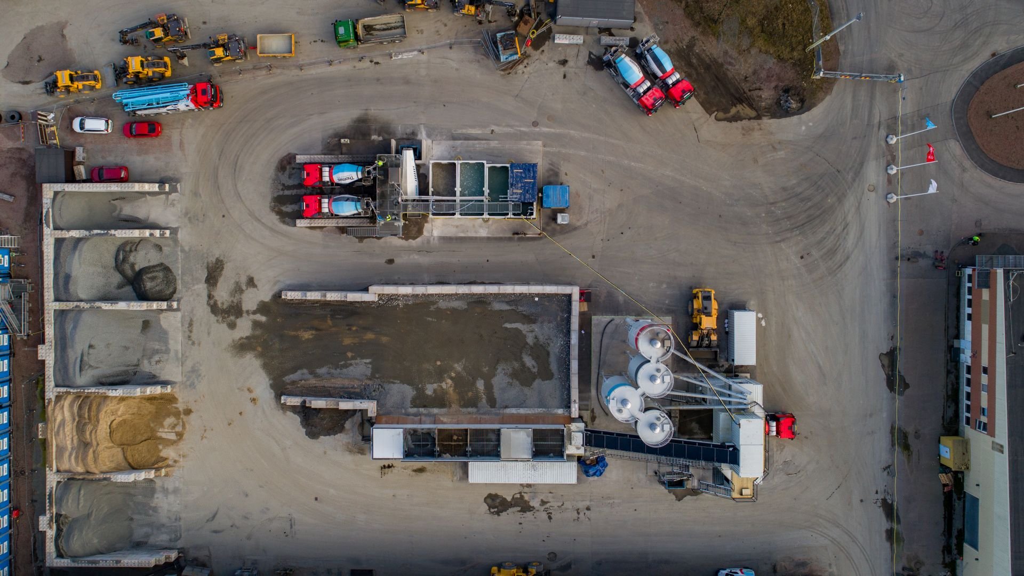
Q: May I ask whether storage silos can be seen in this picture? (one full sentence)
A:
Yes, this view includes a storage silo.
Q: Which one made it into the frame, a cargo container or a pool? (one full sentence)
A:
There is a cargo container in the scene.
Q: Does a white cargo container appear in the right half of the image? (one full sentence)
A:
Yes, a white cargo container appears in the right half of the image.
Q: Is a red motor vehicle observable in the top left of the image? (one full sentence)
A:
Yes, you'll find a red motor vehicle in the top left of the image.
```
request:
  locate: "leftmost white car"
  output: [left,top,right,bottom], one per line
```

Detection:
[74,115,114,135]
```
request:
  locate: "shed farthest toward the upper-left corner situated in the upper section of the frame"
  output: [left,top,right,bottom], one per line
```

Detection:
[33,148,82,184]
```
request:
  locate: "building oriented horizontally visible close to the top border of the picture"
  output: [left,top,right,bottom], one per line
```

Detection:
[555,0,636,34]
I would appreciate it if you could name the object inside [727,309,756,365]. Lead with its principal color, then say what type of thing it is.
white shipping container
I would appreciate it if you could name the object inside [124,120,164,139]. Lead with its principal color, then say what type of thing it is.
red car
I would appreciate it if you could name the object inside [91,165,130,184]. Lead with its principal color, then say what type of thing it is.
red car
